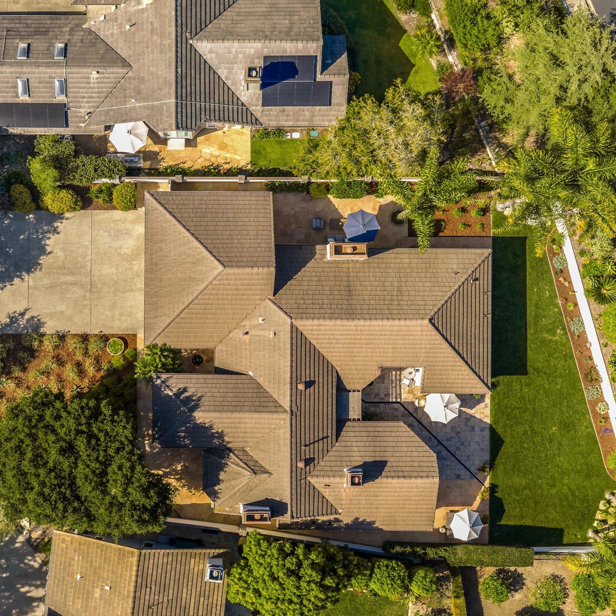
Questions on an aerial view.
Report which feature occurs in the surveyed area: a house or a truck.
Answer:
house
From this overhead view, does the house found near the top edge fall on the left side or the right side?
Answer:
left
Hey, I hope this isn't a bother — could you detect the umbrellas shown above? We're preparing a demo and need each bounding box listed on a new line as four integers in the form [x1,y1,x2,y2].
[342,209,378,243]
[421,394,461,427]
[450,507,481,540]
[110,125,149,159]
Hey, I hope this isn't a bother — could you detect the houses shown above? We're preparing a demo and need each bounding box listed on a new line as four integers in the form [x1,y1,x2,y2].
[143,190,493,533]
[0,0,351,148]
[38,526,232,616]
